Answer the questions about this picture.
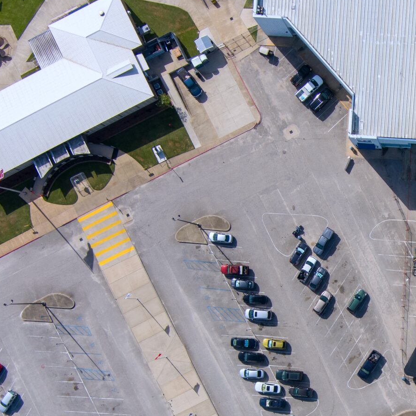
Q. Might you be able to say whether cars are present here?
Yes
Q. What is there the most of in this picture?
paved ground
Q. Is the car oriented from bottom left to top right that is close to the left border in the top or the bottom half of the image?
bottom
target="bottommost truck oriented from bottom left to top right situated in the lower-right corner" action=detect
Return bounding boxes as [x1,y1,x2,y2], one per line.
[358,348,383,380]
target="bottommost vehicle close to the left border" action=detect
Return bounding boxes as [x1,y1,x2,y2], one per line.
[0,389,20,415]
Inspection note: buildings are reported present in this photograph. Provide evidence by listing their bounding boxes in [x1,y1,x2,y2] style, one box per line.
[0,0,156,198]
[195,35,217,54]
[253,0,416,151]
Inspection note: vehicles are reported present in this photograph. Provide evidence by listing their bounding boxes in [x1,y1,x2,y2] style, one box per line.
[295,254,320,287]
[178,68,203,99]
[263,338,288,350]
[239,352,266,364]
[240,368,266,380]
[311,289,333,316]
[290,63,311,90]
[297,72,323,105]
[254,382,281,394]
[230,278,256,290]
[276,369,305,382]
[207,232,234,244]
[0,389,20,415]
[219,263,253,277]
[231,338,258,350]
[260,397,287,410]
[242,294,269,305]
[308,266,329,291]
[346,289,368,315]
[313,224,338,256]
[310,86,332,115]
[246,309,272,322]
[289,387,315,399]
[288,241,309,267]
[358,348,383,380]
